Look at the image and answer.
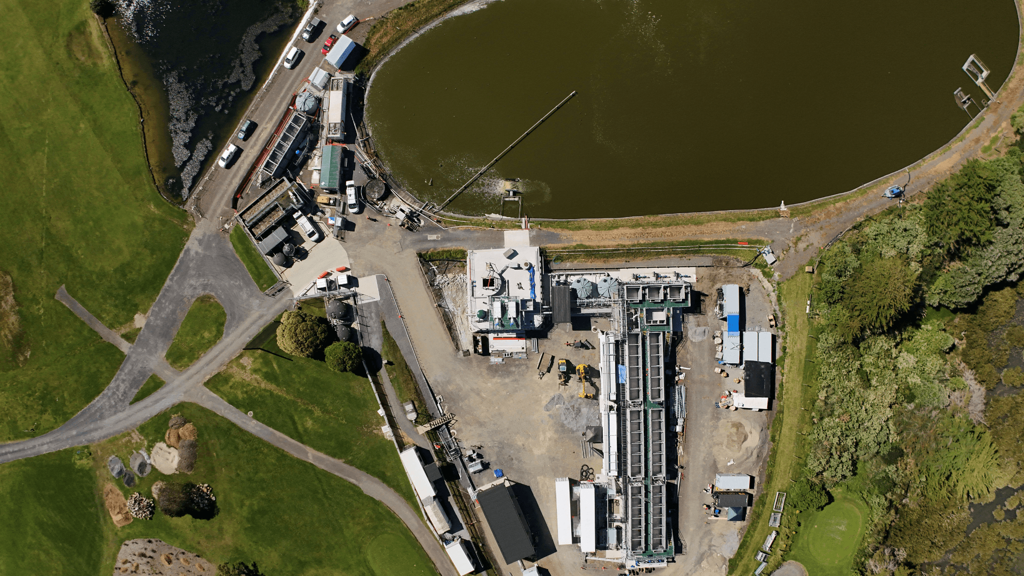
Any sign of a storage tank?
Yes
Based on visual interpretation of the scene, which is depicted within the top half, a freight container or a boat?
freight container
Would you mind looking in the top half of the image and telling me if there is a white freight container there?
Yes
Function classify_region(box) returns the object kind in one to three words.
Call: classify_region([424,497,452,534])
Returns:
shed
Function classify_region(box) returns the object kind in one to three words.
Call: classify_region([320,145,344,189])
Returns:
building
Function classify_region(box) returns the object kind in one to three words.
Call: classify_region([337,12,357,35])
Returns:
car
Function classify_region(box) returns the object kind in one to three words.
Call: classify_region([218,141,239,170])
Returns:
truck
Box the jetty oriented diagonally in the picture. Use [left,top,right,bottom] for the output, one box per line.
[961,55,999,99]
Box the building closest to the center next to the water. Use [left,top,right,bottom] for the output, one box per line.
[388,198,423,237]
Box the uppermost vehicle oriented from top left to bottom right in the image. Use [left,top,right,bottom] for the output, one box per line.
[292,211,319,242]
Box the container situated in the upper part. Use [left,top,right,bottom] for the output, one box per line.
[326,34,355,69]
